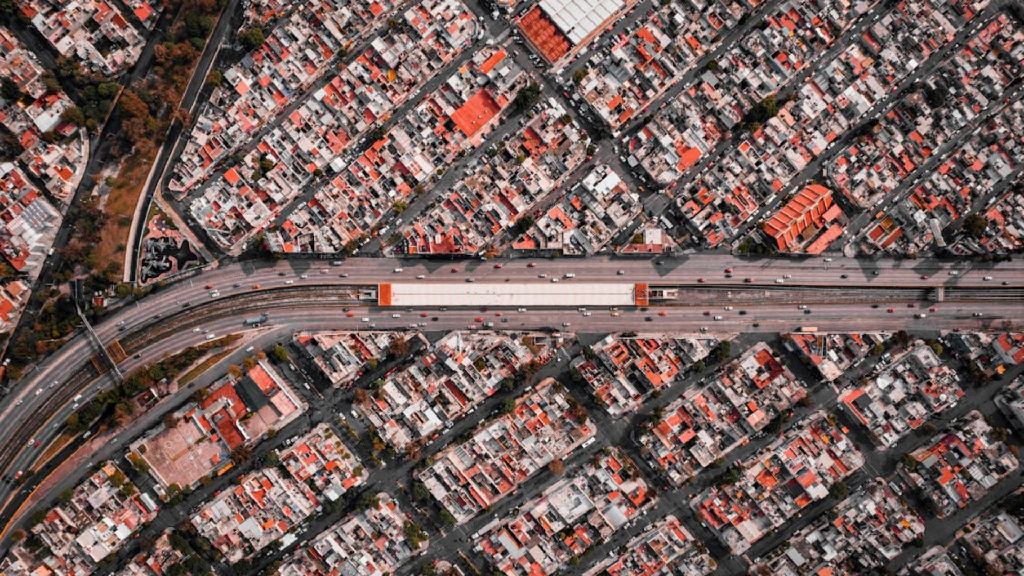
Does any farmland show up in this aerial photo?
No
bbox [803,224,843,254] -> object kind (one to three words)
building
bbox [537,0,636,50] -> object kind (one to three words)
building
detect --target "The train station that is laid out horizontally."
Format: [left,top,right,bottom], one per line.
[378,283,649,306]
